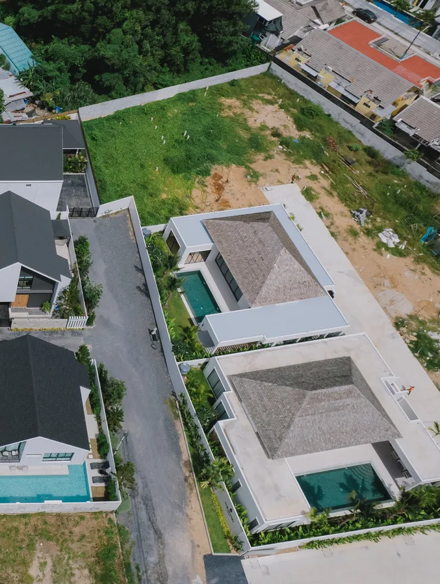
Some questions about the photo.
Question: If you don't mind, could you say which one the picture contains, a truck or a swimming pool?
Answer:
swimming pool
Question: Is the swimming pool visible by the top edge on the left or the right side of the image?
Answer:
right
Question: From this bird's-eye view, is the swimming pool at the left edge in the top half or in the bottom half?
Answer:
bottom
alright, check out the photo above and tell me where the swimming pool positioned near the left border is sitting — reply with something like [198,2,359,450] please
[0,457,93,502]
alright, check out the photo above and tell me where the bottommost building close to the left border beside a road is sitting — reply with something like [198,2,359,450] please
[0,333,90,465]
